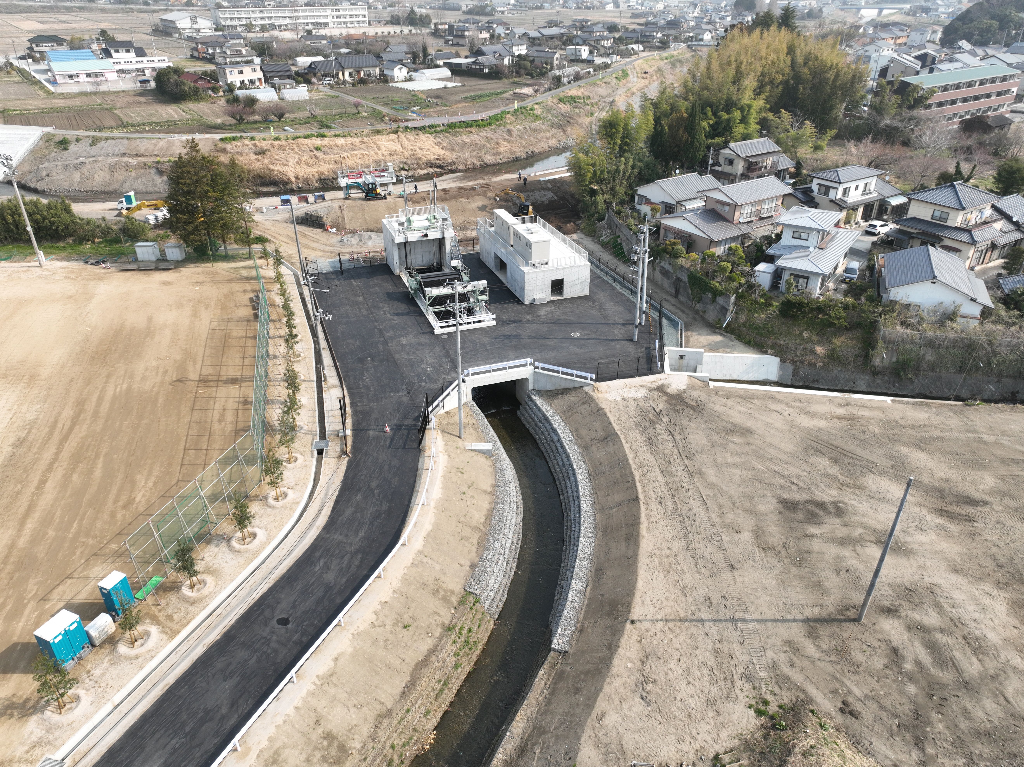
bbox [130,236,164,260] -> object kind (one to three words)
shed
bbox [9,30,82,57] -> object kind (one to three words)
house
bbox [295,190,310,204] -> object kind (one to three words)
vehicle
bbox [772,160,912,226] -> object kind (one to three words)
house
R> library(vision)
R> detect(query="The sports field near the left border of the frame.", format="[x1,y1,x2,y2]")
[0,261,268,725]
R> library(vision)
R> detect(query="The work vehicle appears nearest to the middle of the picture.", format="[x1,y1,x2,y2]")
[476,183,542,222]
